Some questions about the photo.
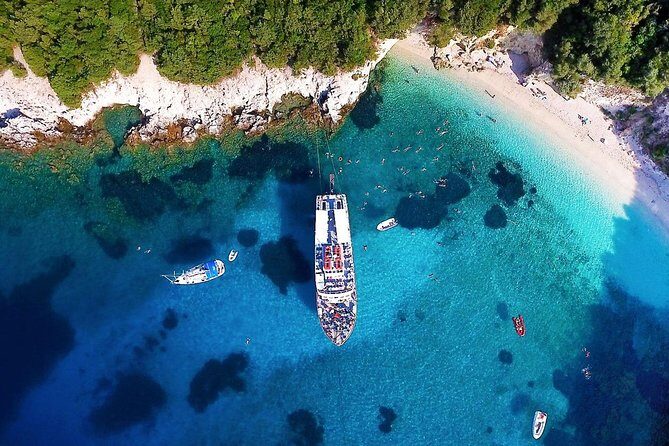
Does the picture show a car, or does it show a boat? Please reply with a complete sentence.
The image shows a boat.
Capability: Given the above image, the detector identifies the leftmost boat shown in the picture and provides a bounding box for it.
[159,259,225,284]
